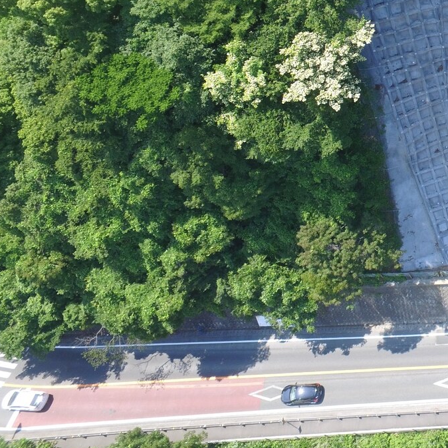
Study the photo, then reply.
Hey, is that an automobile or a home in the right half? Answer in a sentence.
The feature located in the right half is an automobile.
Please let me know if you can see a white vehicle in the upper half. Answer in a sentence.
No, no white vehicle can be made out in the upper half.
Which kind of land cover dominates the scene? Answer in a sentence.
The largest share of the image is taken up by trees.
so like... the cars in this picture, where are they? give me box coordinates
[281,381,325,406]
[0,388,54,413]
